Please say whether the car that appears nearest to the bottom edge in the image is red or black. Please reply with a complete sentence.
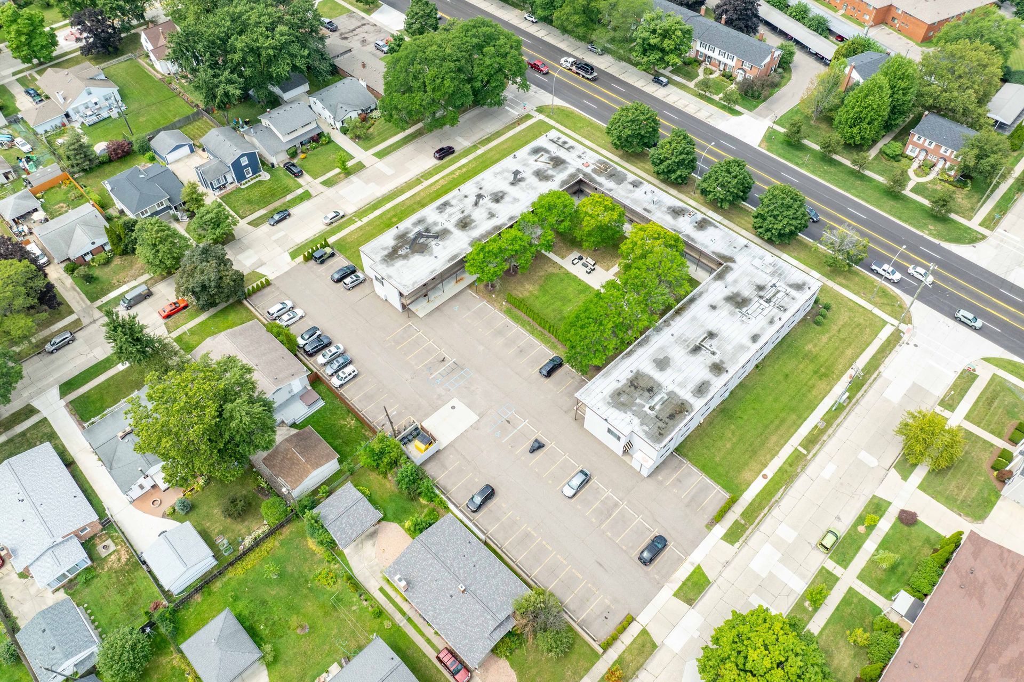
In this view, the car that appears nearest to the bottom edge is red.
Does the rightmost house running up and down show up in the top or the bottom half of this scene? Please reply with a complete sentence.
The rightmost house running up and down sits in the bottom half of the picture.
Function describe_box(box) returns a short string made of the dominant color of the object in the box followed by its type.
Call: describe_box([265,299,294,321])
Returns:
white car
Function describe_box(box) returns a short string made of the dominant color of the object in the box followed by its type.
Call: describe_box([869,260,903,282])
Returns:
white truck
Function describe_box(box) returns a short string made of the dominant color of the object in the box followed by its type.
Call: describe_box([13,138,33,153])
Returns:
white car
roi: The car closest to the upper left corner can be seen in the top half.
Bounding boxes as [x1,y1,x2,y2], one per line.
[24,89,40,102]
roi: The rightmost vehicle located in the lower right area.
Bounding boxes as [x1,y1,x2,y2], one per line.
[817,528,841,553]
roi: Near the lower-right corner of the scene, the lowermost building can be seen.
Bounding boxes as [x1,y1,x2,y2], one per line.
[876,530,1024,682]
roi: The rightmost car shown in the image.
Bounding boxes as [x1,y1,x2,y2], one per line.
[953,308,985,331]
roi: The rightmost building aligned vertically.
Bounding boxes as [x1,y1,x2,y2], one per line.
[995,456,1024,521]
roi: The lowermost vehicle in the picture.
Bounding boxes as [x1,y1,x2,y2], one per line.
[436,646,471,682]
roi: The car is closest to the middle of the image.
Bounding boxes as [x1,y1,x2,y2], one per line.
[538,356,564,378]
